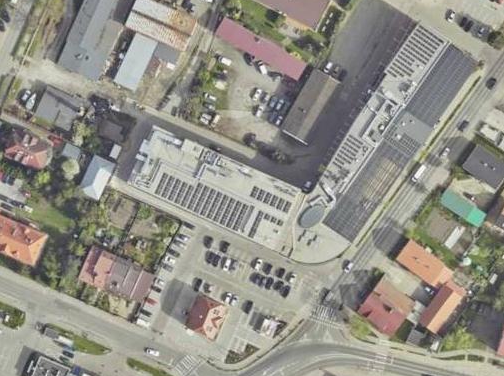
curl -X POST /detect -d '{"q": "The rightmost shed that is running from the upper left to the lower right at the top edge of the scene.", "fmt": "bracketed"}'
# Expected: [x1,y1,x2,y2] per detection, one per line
[215,17,307,81]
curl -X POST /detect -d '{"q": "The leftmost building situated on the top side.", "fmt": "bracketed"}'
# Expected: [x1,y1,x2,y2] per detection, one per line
[5,125,53,170]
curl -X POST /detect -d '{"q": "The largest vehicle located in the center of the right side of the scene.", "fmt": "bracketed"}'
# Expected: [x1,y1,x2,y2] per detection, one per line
[412,162,427,183]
